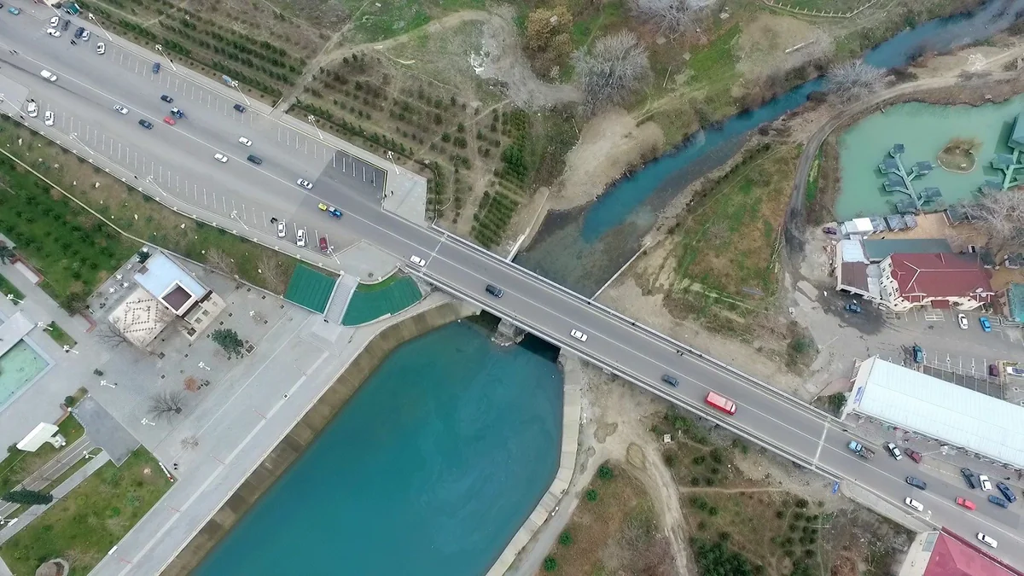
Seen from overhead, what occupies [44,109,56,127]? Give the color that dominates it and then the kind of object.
white vehicle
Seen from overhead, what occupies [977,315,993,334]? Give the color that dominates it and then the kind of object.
blue car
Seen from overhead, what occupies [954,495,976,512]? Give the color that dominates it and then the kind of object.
red car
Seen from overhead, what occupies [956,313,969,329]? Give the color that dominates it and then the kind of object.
white vehicle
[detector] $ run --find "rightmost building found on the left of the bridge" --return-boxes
[132,249,231,344]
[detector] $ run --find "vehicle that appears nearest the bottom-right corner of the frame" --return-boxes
[975,531,999,550]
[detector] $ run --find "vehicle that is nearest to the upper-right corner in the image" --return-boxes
[821,225,839,237]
